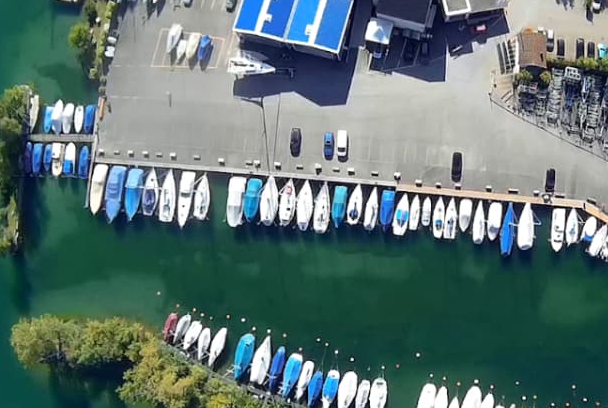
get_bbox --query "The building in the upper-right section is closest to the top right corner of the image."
[518,31,547,70]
